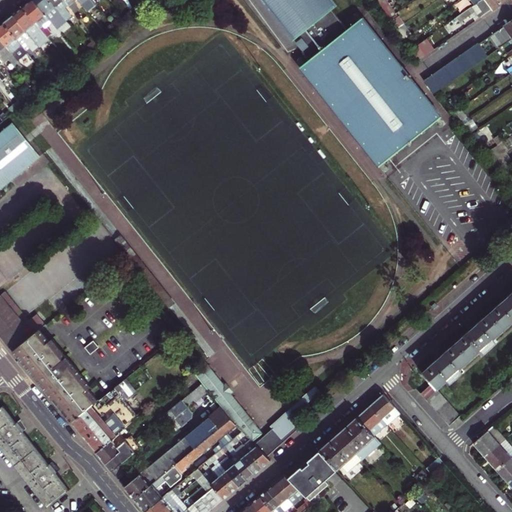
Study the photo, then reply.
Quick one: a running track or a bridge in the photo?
running track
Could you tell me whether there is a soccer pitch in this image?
Yes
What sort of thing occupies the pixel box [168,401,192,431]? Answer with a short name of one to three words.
house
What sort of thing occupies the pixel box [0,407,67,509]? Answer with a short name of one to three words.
building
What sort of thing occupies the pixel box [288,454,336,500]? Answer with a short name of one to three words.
building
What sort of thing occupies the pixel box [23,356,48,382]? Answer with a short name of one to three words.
house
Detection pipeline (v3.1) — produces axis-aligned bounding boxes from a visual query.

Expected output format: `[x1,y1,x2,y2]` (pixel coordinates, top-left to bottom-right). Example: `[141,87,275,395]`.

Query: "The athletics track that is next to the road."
[59,28,397,384]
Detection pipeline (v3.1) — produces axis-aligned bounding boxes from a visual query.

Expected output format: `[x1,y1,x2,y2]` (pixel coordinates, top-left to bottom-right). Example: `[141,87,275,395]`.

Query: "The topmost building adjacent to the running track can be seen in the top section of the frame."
[261,0,337,41]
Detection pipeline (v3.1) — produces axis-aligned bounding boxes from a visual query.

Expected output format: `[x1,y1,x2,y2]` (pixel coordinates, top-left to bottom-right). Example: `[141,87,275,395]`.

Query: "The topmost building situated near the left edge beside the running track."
[0,121,40,190]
